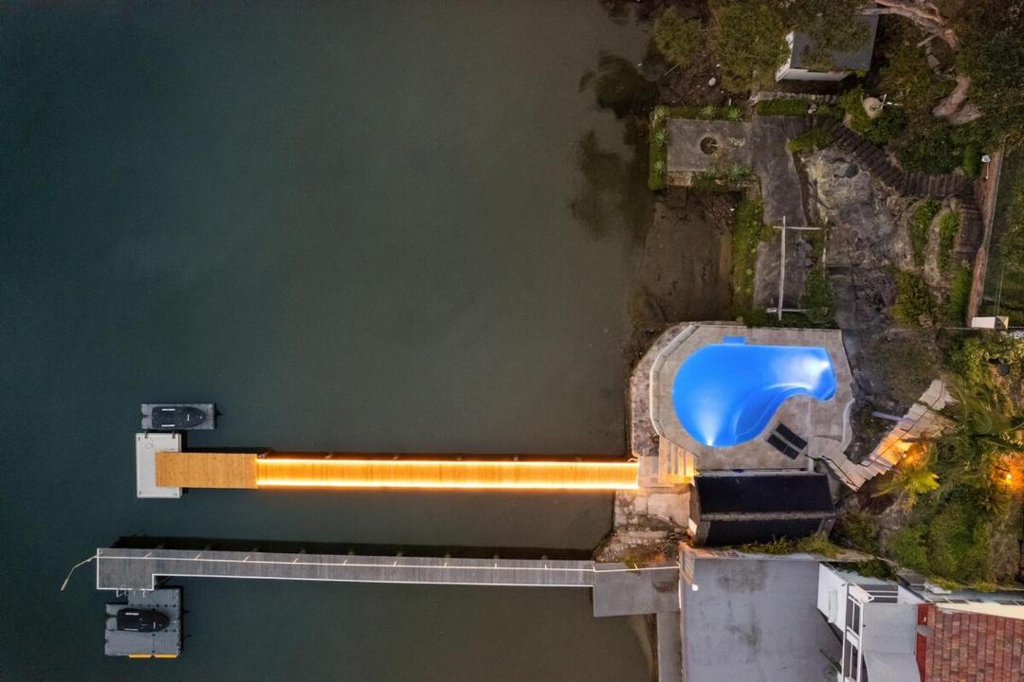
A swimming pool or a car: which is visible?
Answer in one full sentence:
There is a swimming pool in the scene.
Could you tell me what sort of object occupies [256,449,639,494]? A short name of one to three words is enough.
pier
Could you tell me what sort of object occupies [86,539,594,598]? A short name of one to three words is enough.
pier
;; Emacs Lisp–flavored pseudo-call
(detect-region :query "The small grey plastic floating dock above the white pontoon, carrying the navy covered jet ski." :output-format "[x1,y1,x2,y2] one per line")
[142,403,221,429]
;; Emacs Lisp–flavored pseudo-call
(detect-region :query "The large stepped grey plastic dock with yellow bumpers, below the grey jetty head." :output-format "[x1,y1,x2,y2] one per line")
[105,586,190,658]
